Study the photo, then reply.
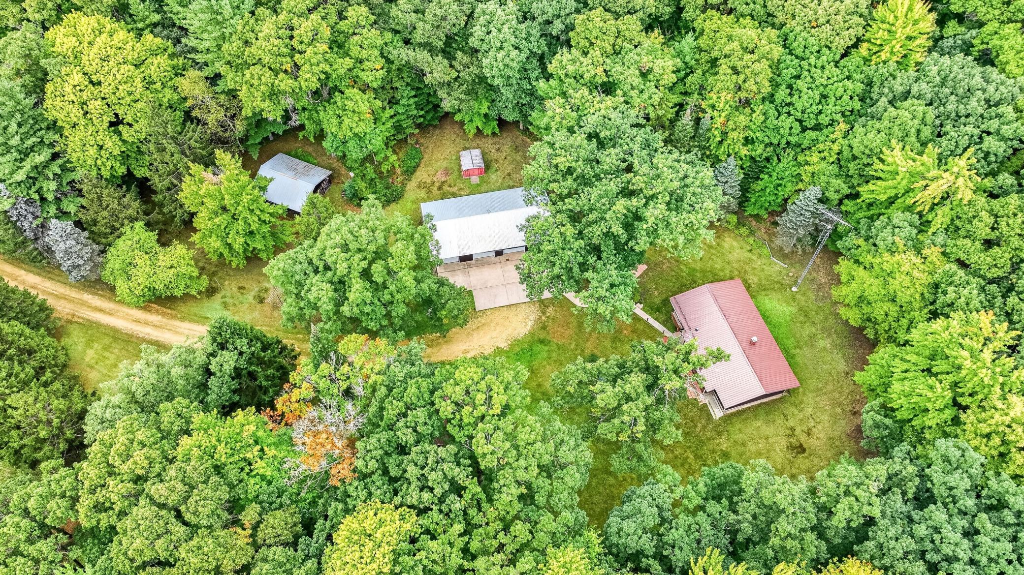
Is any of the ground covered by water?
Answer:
No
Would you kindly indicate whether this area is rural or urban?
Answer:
rural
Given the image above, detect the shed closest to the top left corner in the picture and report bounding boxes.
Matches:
[254,152,336,217]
